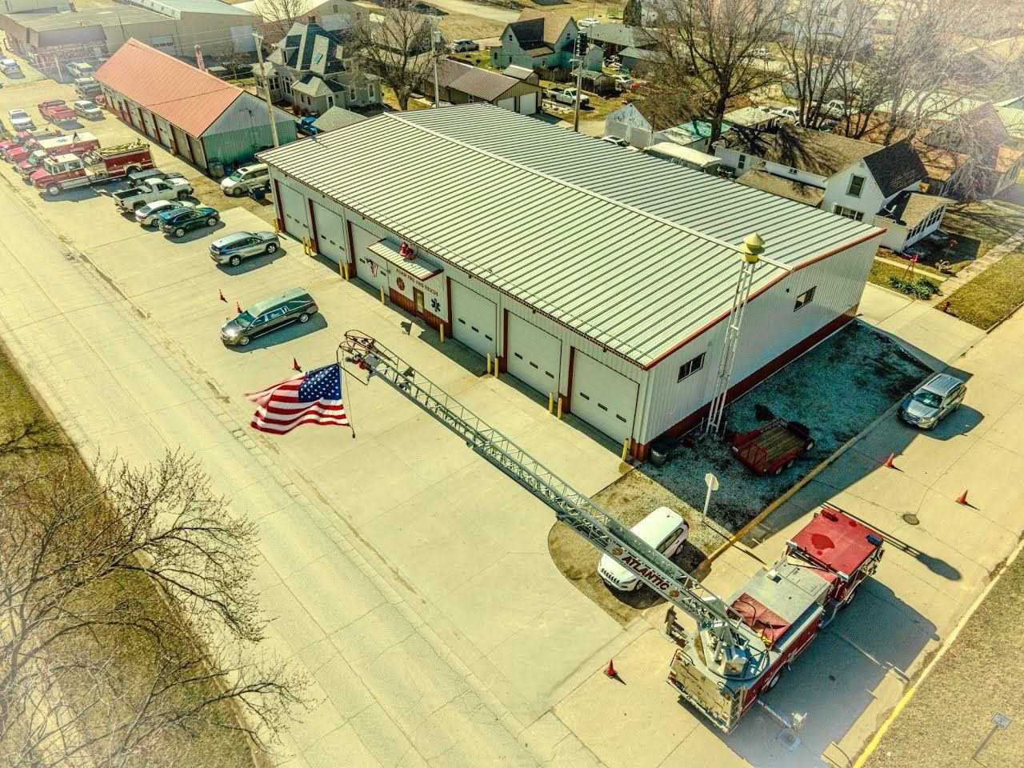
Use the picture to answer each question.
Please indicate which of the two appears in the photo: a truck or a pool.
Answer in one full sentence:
Looking from above, you can make out a truck.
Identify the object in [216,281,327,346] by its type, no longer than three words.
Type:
vehicle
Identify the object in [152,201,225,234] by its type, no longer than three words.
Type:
car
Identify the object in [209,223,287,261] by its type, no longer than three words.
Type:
car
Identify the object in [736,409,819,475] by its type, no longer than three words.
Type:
trailer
